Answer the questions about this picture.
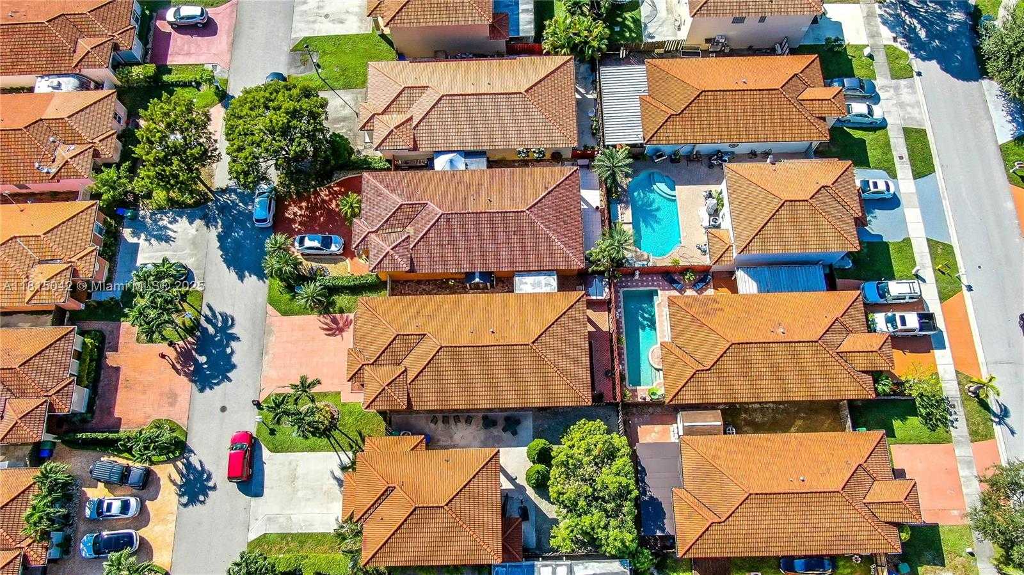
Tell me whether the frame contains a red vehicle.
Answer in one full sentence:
Yes, there's a red vehicle here.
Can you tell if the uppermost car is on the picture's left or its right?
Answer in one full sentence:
The uppermost car sits on the left side.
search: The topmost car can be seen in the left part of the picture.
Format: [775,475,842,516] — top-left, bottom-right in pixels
[167,4,208,28]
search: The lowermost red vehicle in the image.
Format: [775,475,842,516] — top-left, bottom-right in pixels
[227,430,256,484]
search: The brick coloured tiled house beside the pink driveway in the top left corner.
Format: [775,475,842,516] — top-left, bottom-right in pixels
[0,0,148,89]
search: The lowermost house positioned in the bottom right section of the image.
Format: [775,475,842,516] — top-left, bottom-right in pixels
[672,430,926,559]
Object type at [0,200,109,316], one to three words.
house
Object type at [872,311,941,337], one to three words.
truck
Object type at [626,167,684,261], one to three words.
swimming pool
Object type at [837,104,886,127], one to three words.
car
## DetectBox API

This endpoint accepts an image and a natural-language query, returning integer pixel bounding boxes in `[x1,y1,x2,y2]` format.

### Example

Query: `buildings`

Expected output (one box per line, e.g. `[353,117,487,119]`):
[706,159,858,272]
[672,430,926,559]
[0,325,90,443]
[340,433,525,573]
[358,56,579,162]
[0,200,109,316]
[0,89,128,194]
[365,0,510,56]
[638,53,844,155]
[346,291,592,411]
[350,166,586,281]
[688,0,825,45]
[661,290,895,404]
[0,0,148,89]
